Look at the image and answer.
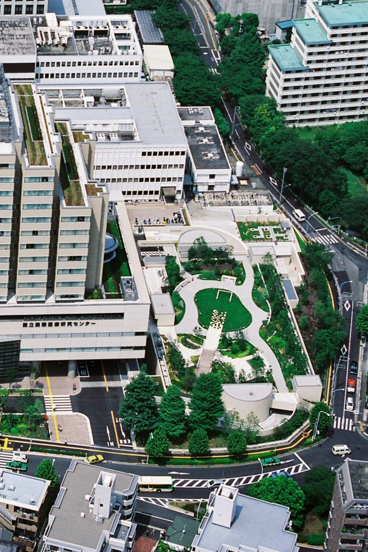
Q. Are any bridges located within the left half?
No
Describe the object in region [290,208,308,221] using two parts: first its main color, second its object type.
white vehicle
